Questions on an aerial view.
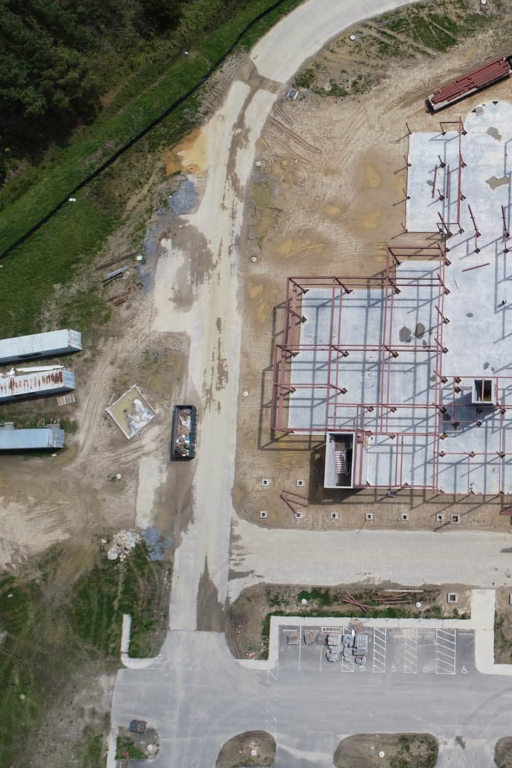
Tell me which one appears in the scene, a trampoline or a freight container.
freight container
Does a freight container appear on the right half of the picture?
No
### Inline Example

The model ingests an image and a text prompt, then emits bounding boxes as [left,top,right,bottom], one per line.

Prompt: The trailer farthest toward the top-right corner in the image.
[427,55,512,111]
